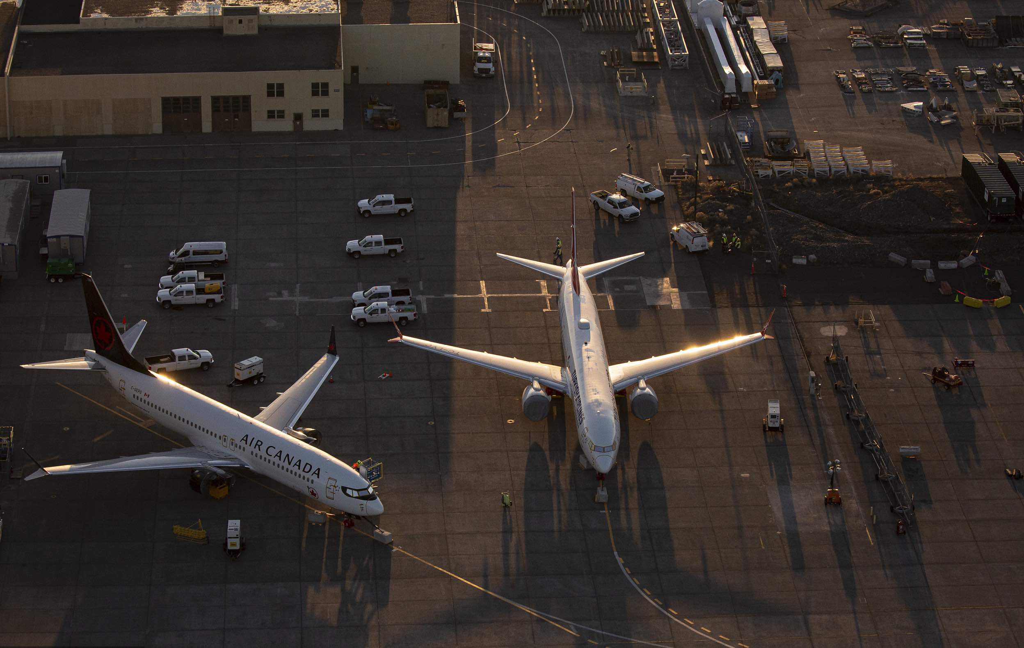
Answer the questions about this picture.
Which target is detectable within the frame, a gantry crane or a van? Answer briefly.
van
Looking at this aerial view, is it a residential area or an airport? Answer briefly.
airport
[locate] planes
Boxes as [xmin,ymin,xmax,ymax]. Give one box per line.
[389,190,776,473]
[20,273,383,528]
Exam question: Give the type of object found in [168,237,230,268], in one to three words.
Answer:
van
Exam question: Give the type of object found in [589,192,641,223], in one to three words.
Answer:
truck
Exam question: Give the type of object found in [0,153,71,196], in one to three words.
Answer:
building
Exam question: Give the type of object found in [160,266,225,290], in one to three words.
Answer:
truck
